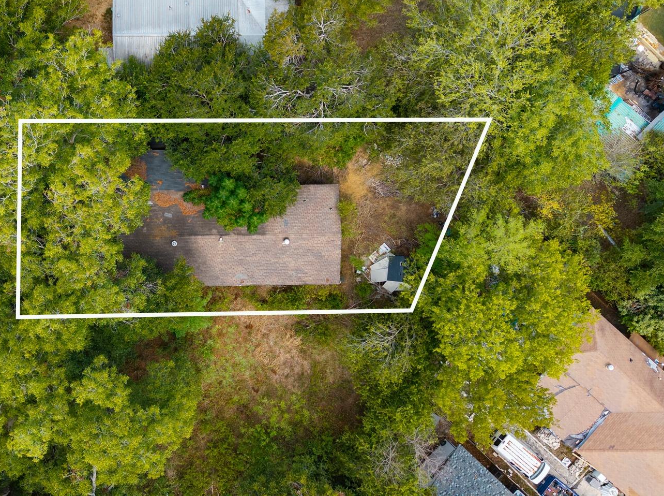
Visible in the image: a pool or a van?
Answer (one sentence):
Of the two, only a van appears.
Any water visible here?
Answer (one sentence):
No, there is no water in the image.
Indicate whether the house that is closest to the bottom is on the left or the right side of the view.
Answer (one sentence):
The house that is closest to the bottom sits on the right side.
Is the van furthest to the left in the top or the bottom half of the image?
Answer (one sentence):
The bottom half of the photo is where the van furthest to the left is.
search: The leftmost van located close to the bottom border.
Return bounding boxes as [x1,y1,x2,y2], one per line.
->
[489,429,550,487]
